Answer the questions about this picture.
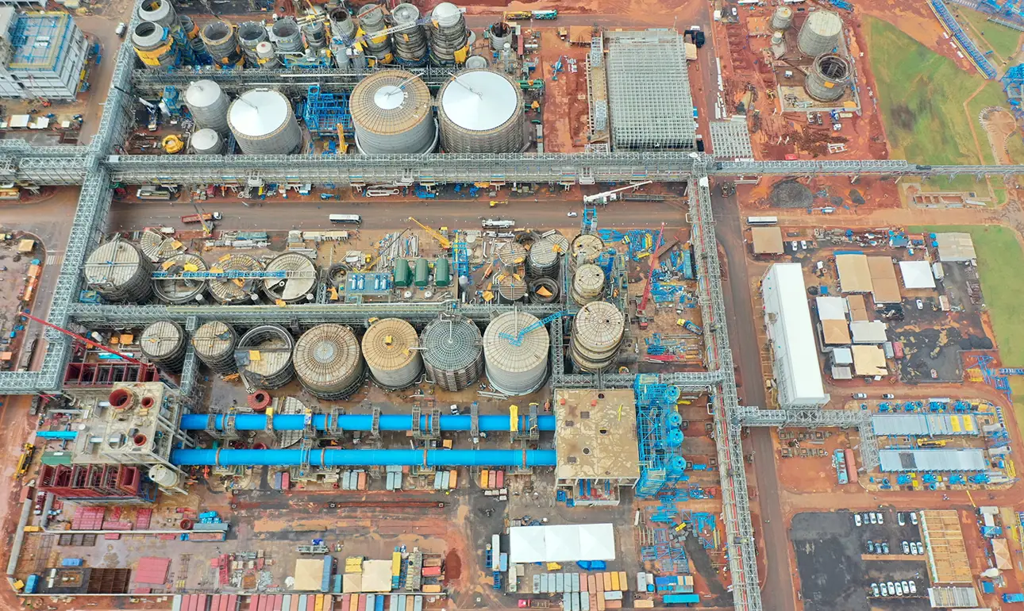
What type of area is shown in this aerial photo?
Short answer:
industrial area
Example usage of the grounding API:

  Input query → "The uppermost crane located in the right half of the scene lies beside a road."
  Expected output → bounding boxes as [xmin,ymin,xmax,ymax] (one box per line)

[582,182,652,206]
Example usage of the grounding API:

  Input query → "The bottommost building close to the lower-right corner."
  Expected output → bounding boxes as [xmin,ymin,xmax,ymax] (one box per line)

[924,588,977,609]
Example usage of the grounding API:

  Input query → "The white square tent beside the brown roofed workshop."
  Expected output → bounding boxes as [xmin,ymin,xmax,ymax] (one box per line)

[895,262,935,292]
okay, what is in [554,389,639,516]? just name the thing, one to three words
building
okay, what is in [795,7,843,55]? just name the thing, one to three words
storage tank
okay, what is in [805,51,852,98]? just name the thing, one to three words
storage tank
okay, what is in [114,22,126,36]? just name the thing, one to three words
vehicle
